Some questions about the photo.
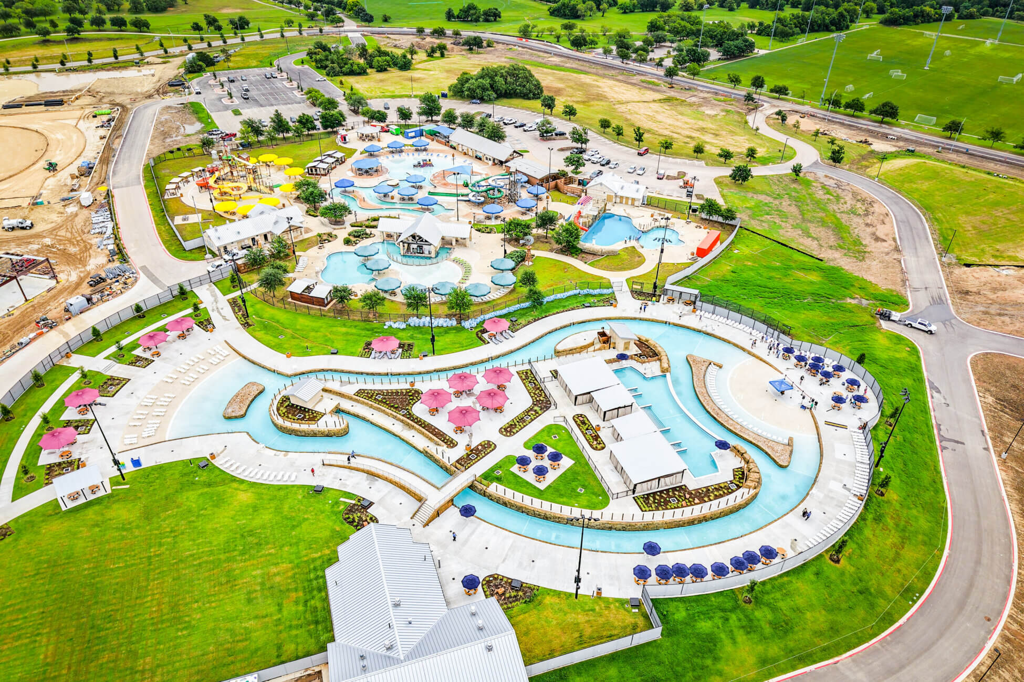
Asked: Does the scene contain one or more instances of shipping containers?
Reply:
Yes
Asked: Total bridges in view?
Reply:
1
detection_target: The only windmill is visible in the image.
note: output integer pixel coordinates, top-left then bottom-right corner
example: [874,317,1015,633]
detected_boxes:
[521,239,534,263]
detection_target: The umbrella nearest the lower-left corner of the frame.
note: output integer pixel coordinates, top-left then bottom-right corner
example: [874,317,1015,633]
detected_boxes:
[39,428,78,454]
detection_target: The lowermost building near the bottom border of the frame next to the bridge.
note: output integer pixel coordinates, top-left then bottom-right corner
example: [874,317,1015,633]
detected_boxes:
[316,522,528,682]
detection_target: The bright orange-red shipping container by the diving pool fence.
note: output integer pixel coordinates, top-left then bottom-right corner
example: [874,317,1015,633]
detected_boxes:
[689,230,723,257]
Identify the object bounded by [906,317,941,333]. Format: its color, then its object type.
white vehicle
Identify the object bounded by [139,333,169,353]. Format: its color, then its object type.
pink umbrella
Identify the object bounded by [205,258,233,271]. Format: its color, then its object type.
white vehicle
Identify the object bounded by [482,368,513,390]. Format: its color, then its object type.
pink umbrella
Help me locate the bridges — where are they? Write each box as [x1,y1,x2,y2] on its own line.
[322,451,475,527]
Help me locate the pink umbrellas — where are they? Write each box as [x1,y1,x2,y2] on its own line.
[66,389,101,413]
[482,368,513,390]
[480,319,508,337]
[139,333,169,353]
[476,389,508,413]
[448,372,479,395]
[420,390,452,412]
[166,318,195,339]
[447,407,481,432]
[371,337,400,358]
[39,428,78,454]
